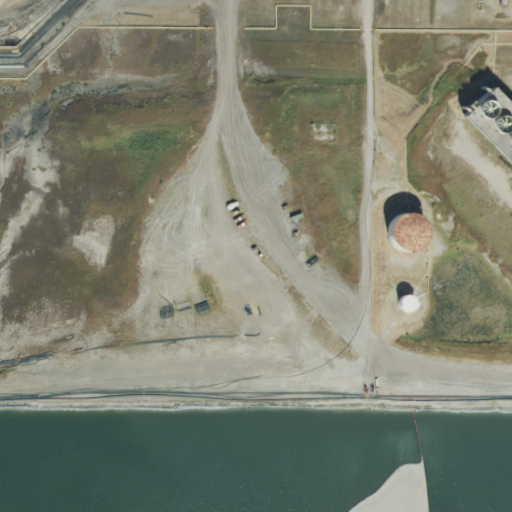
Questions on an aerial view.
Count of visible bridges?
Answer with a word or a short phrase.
0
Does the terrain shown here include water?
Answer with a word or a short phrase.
Yes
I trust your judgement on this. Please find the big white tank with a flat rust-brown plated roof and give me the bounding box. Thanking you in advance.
[386,212,433,252]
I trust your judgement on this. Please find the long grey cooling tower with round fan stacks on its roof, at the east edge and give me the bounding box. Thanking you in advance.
[462,86,512,162]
